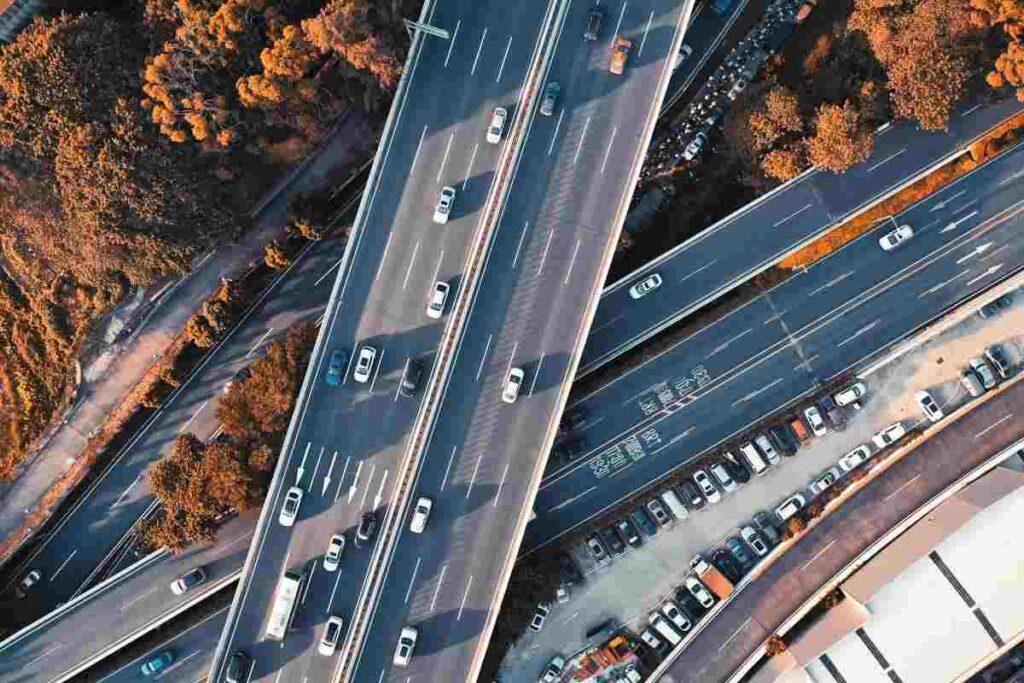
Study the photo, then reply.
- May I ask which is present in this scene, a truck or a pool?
truck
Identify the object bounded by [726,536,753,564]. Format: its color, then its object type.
blue car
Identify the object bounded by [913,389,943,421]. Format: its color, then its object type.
white car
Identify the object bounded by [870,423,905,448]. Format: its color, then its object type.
white car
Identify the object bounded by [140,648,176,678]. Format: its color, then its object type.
blue car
